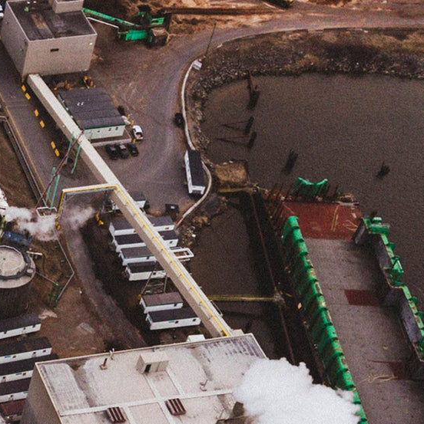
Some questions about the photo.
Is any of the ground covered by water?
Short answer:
Yes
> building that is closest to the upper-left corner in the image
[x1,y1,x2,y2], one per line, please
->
[0,0,98,75]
